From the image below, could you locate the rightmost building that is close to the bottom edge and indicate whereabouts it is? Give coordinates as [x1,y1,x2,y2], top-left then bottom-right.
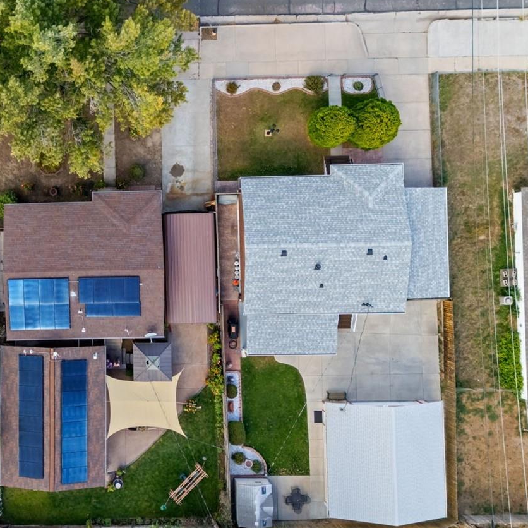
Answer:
[317,397,447,527]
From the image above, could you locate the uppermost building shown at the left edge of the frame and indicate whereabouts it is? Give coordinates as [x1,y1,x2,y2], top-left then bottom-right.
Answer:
[2,189,166,350]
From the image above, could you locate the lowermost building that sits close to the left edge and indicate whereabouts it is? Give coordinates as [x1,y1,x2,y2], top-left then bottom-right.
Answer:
[0,340,107,492]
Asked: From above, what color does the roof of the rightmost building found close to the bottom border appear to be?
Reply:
white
